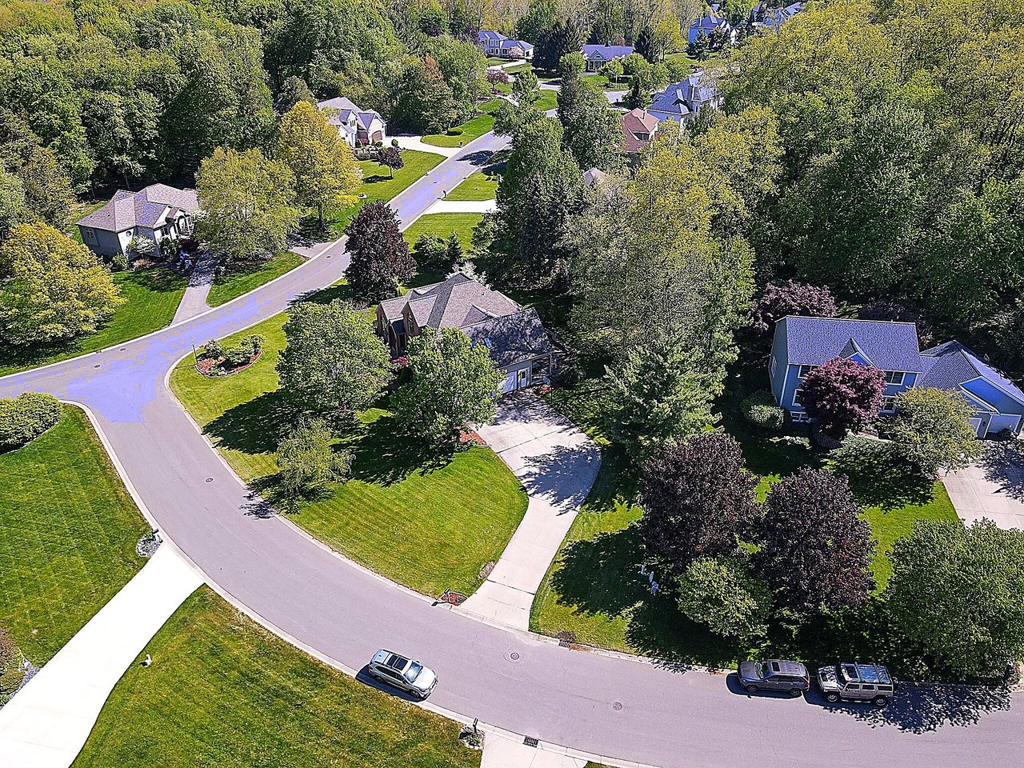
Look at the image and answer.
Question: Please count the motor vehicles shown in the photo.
3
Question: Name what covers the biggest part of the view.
trees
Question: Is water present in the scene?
No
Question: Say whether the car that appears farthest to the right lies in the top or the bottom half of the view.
bottom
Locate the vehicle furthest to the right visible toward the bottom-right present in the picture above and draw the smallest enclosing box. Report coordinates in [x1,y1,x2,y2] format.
[816,662,898,707]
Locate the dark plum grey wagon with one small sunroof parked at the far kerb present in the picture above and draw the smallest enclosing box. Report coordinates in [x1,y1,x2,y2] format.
[735,657,815,697]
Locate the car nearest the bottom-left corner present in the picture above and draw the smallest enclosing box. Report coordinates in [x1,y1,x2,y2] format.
[368,646,439,696]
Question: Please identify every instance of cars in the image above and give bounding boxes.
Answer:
[816,662,898,707]
[368,646,439,696]
[735,657,815,697]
